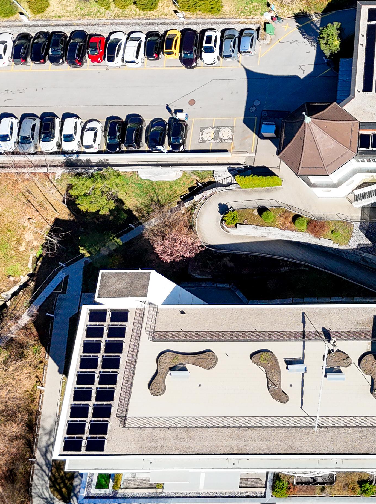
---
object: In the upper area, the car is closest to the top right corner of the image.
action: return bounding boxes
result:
[239,28,257,57]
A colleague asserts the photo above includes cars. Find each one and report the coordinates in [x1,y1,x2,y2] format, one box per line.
[123,114,145,150]
[58,113,83,151]
[145,120,166,152]
[143,34,163,60]
[102,120,124,150]
[179,30,200,67]
[29,33,50,64]
[220,29,239,61]
[0,116,19,150]
[0,33,13,67]
[239,28,257,57]
[124,33,144,67]
[37,114,61,151]
[200,30,221,65]
[66,32,87,67]
[162,30,181,59]
[105,33,126,67]
[85,34,106,62]
[46,30,69,65]
[81,121,103,152]
[16,118,40,152]
[11,32,32,66]
[166,116,190,152]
